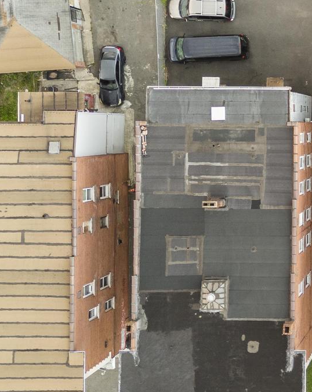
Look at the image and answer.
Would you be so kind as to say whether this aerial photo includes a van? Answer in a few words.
Yes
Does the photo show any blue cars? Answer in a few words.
No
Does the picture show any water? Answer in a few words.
No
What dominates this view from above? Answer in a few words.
buildings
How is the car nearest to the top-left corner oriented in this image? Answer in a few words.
from top to bottom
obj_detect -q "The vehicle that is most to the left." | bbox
[96,45,129,107]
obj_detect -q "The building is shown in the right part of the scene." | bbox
[118,87,312,392]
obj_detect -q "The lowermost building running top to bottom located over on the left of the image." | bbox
[0,111,130,392]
